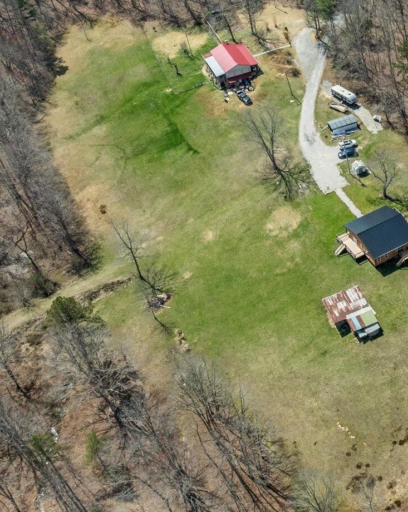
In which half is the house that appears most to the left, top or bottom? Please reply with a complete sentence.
You can find the house that appears most to the left in the top half.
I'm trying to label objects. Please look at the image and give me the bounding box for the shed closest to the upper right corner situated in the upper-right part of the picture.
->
[327,114,359,136]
